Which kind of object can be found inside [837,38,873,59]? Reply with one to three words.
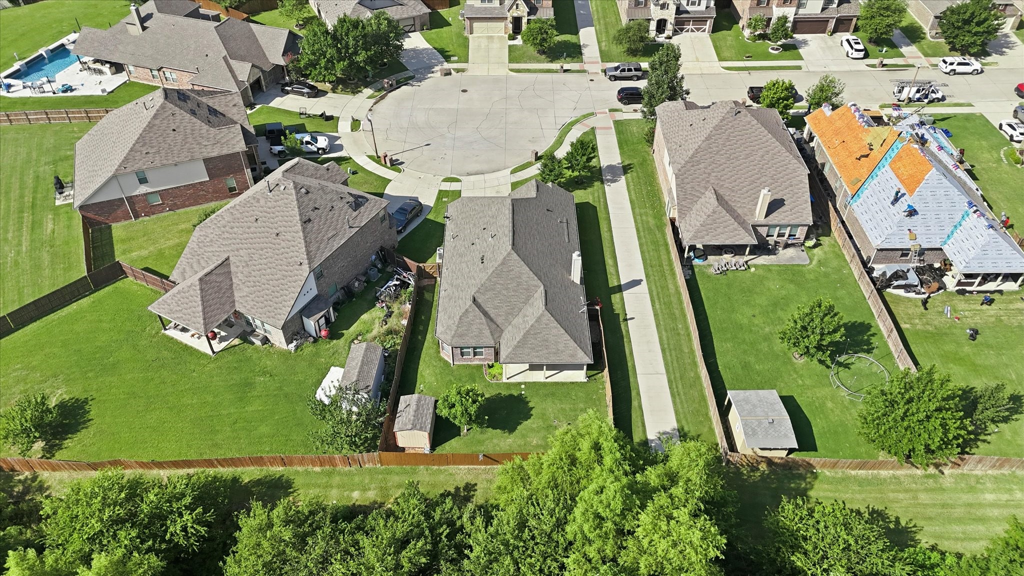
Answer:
car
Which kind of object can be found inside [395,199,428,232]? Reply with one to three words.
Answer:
car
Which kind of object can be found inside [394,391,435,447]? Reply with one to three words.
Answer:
shed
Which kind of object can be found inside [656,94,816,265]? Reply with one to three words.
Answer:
house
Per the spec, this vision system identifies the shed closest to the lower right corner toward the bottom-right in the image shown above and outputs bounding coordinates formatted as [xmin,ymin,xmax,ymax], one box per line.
[726,390,798,455]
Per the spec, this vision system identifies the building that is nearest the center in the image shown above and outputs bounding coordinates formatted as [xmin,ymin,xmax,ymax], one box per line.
[434,175,593,382]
